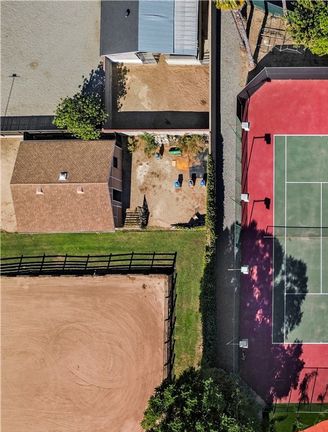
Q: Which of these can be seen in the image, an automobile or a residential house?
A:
residential house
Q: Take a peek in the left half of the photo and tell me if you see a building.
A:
Yes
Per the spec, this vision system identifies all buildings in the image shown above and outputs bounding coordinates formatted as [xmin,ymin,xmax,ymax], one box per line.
[106,0,206,65]
[14,141,126,231]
